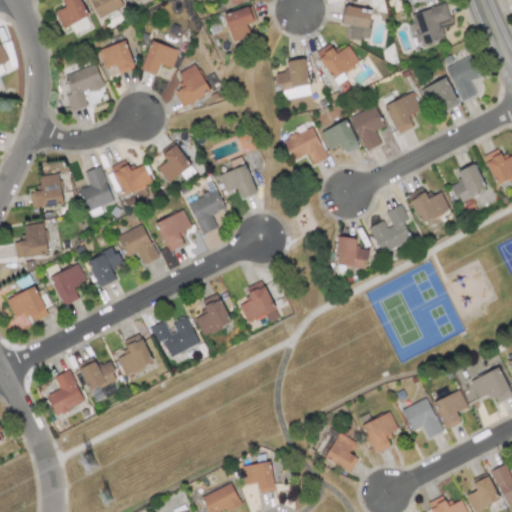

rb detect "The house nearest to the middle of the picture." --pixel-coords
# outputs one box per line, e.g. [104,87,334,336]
[242,280,280,322]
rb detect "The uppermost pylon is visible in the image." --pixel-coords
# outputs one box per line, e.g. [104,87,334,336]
[76,453,100,478]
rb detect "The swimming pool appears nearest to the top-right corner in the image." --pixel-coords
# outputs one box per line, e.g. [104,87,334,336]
[398,29,412,51]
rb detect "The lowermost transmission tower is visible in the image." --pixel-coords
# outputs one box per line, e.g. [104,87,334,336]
[98,490,117,510]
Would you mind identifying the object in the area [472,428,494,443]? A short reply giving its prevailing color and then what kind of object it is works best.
white vehicle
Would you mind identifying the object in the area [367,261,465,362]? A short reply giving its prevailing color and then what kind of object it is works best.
blue sports court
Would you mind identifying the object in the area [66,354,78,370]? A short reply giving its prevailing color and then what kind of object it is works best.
white vehicle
